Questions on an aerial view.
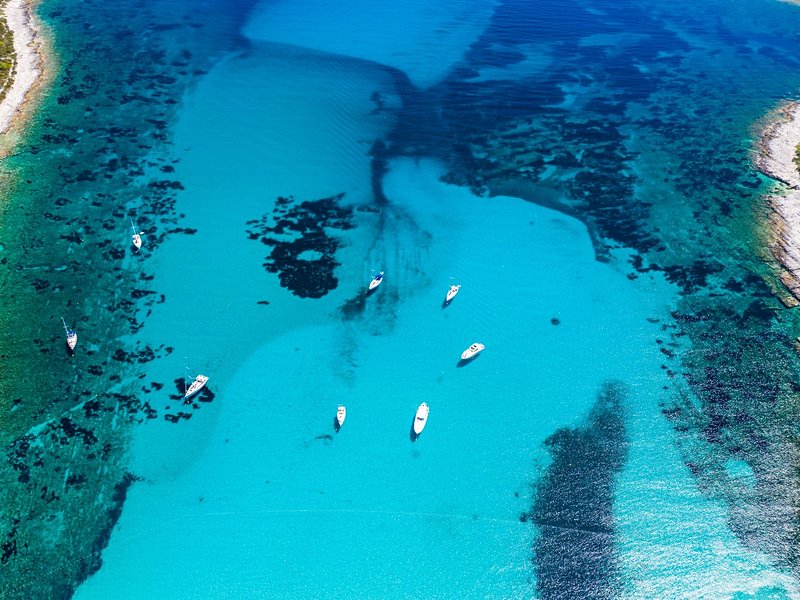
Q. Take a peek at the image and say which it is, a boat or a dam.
boat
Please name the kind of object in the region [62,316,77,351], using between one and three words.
boat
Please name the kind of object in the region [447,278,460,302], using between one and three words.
boat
